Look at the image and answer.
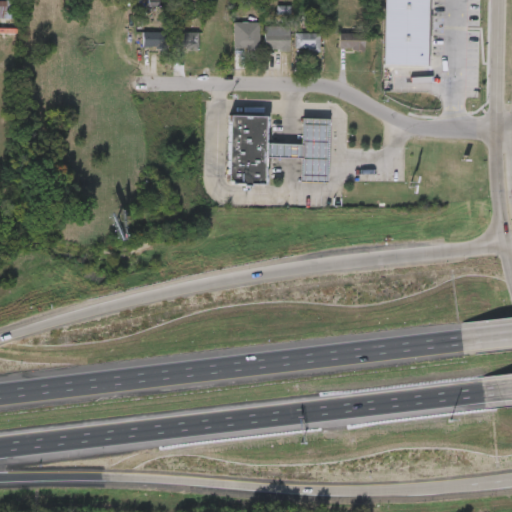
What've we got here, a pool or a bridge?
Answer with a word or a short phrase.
bridge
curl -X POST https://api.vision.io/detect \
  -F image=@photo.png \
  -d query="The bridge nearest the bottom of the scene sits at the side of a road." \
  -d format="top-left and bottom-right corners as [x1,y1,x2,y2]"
[484,374,512,410]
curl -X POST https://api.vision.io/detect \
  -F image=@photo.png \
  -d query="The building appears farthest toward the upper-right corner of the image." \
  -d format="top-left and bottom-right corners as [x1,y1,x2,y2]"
[384,0,431,70]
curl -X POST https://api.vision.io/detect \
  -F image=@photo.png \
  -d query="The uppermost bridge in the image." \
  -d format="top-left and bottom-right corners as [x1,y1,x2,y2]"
[463,316,512,354]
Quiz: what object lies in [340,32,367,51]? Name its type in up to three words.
house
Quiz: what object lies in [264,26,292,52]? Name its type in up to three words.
house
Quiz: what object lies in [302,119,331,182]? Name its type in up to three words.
building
